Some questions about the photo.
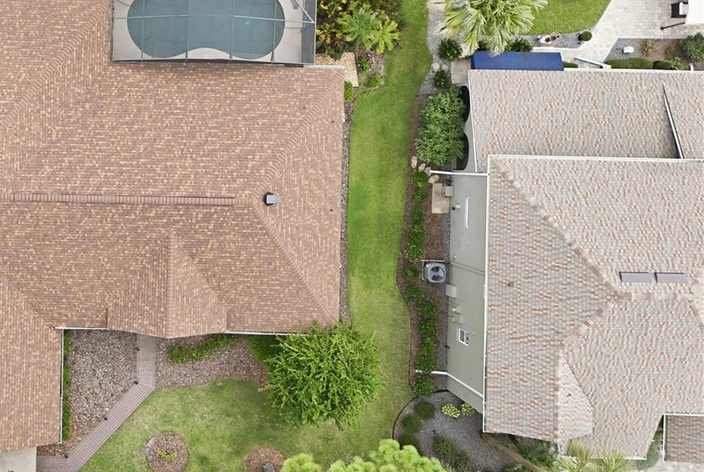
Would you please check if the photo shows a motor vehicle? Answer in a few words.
No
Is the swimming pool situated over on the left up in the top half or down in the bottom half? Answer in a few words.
top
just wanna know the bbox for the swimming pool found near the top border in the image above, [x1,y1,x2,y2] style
[115,0,299,62]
